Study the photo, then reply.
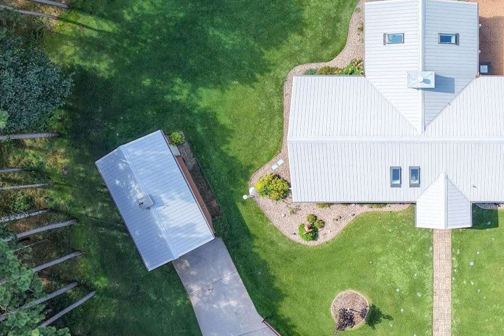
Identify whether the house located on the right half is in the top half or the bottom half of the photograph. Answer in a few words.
top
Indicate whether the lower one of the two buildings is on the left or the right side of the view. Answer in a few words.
left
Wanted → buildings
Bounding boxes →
[94,130,217,272]
[286,0,504,230]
